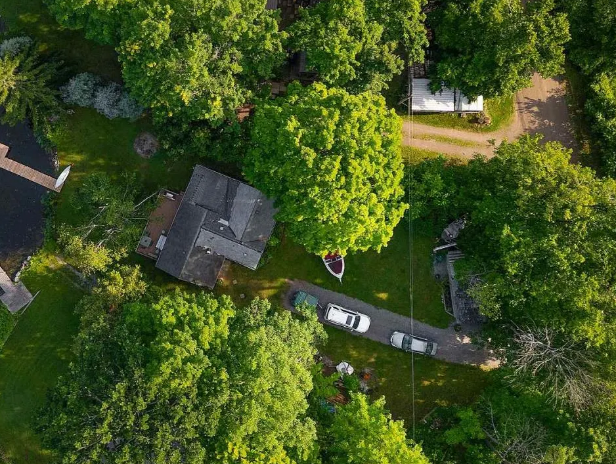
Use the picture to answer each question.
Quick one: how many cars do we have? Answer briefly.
2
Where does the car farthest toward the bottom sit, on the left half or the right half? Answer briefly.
right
